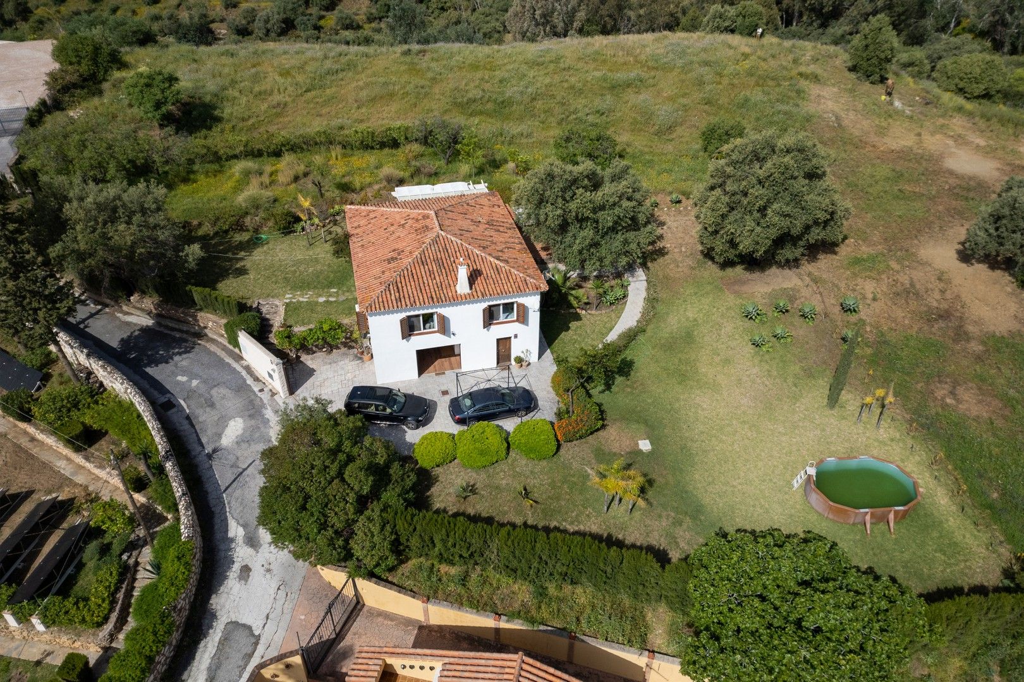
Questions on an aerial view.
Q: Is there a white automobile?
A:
No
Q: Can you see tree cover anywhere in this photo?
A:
Yes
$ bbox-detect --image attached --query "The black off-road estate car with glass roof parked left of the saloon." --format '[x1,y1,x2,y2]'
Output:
[348,387,431,429]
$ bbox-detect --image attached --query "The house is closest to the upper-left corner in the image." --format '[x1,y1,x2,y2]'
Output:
[344,189,552,383]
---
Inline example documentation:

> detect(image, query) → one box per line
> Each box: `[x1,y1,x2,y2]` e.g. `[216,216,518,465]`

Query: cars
[348,387,431,429]
[450,384,538,425]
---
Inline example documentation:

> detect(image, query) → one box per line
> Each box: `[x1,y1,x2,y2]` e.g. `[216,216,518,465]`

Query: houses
[344,189,552,383]
[344,644,590,682]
